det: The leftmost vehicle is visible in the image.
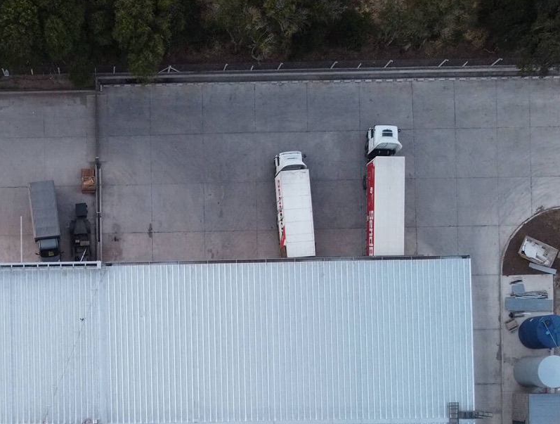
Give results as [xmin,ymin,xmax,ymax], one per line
[29,178,66,263]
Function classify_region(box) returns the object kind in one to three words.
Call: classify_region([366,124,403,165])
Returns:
truck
